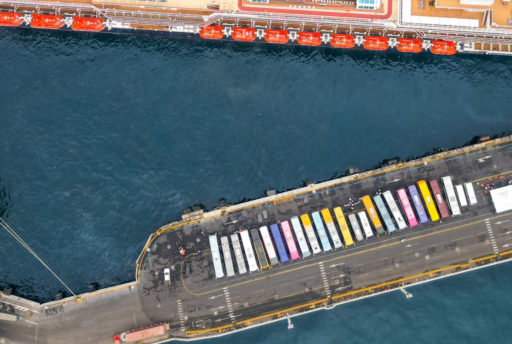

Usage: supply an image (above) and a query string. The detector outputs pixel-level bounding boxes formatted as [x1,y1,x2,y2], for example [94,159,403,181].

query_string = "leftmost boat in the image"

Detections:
[0,10,26,24]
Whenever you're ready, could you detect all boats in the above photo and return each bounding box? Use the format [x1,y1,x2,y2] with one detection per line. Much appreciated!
[0,10,26,24]
[263,29,291,43]
[230,26,257,40]
[429,40,458,54]
[329,33,355,47]
[395,37,423,51]
[199,24,225,38]
[296,31,324,45]
[361,35,388,49]
[29,13,64,27]
[70,15,106,30]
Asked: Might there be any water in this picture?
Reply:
Yes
